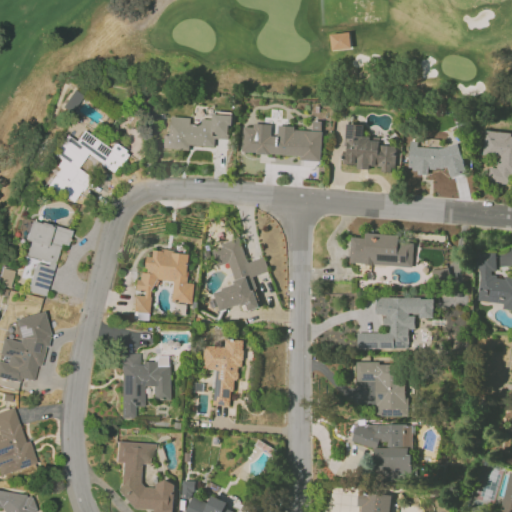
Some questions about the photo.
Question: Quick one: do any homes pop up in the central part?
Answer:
Yes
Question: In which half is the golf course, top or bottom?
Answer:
top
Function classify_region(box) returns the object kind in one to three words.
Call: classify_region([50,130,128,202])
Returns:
house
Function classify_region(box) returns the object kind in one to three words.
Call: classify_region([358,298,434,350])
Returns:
house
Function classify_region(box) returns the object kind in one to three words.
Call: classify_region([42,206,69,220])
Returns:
swimming pool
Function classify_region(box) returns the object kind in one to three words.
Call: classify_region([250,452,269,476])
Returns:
swimming pool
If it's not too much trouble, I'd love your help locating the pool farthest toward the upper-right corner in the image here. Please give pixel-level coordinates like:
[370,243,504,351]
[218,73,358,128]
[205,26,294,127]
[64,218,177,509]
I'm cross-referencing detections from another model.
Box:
[366,114,392,128]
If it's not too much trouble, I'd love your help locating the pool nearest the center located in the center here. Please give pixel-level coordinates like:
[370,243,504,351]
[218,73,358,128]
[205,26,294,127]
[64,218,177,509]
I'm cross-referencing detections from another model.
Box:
[207,272,225,293]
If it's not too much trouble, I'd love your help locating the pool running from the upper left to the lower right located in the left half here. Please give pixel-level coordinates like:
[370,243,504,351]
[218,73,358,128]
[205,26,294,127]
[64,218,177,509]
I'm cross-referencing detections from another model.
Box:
[82,104,103,124]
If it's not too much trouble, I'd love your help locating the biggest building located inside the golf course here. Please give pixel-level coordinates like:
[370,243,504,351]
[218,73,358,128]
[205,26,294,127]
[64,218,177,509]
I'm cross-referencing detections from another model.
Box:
[330,32,352,51]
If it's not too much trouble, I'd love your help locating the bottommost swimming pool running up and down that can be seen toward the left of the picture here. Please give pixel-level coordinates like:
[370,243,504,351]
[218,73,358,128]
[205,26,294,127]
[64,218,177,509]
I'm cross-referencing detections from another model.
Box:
[164,442,178,470]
